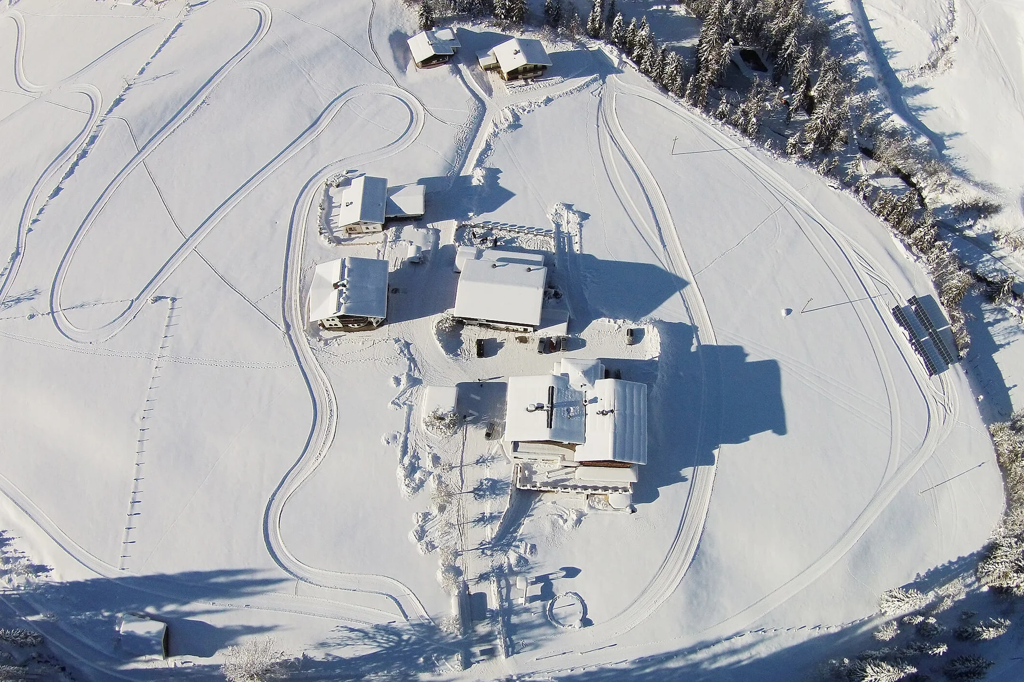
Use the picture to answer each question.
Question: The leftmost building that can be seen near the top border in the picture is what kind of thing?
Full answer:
In the photo, the leftmost building that can be seen near the top border shows up as a residential house.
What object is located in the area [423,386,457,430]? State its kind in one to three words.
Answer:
building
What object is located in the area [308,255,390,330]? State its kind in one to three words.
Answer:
house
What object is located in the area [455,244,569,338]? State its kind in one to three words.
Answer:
barn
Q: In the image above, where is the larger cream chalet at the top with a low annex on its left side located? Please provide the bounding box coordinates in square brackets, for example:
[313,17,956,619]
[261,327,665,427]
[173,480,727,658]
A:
[476,37,551,87]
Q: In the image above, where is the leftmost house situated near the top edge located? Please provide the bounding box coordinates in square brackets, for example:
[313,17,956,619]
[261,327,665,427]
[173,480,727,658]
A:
[408,28,461,79]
